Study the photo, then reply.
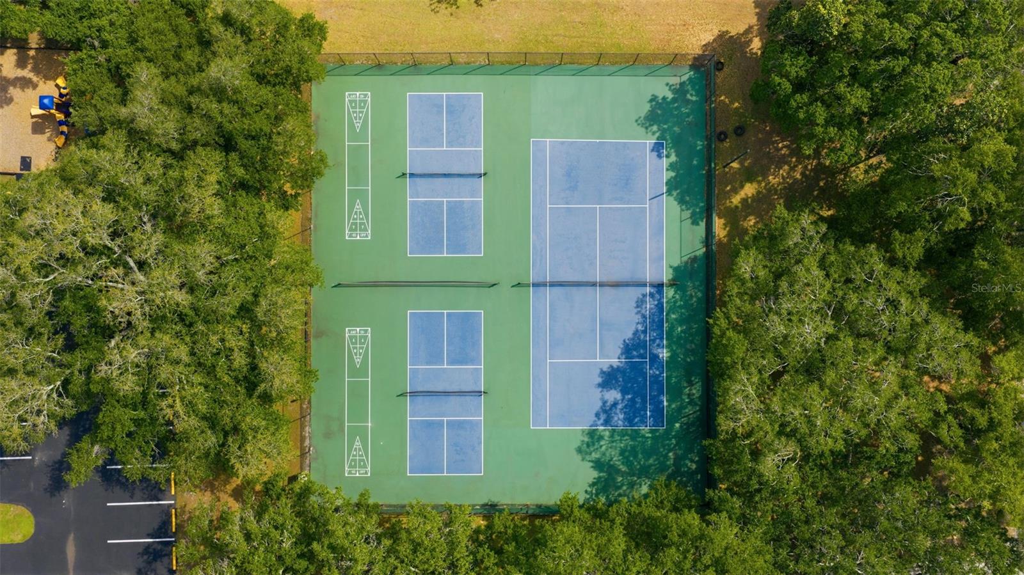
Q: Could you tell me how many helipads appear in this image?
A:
none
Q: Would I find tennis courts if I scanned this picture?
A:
Yes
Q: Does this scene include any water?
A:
No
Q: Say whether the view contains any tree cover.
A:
Yes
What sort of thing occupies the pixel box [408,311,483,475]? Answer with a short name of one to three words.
sports court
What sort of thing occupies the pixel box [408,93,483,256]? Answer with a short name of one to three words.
sports court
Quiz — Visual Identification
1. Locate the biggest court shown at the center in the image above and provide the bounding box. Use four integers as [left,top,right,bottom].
[531,139,665,428]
